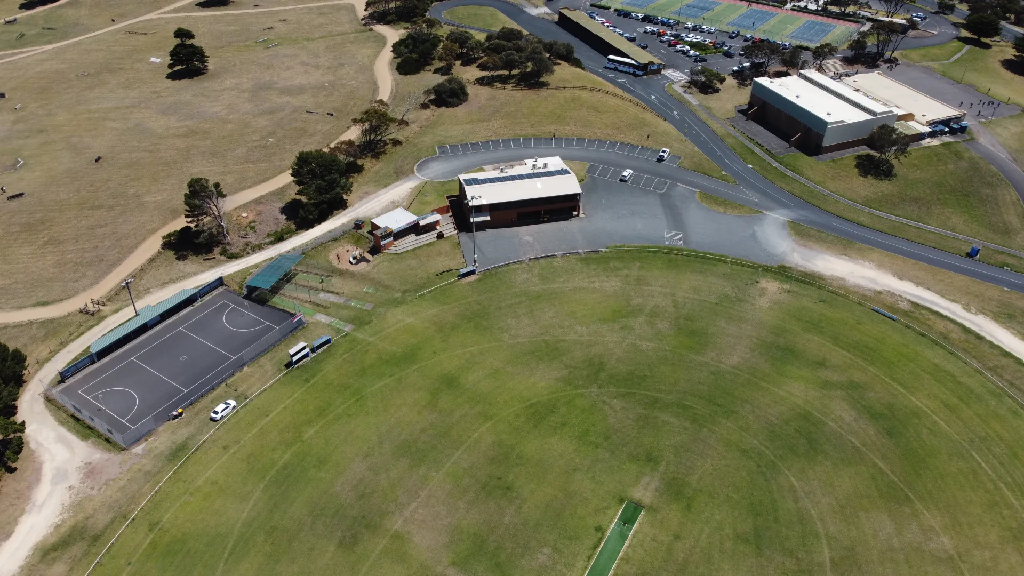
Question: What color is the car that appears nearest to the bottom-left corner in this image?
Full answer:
The car that appears nearest to the bottom-left corner is white.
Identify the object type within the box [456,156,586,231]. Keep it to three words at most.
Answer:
building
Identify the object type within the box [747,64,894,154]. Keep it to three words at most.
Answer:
building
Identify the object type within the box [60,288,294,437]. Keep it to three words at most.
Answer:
sports court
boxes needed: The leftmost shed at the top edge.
[558,7,663,76]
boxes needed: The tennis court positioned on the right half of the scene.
[620,0,839,44]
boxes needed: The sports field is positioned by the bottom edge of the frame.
[586,501,643,576]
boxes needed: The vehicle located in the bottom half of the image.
[207,399,238,420]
